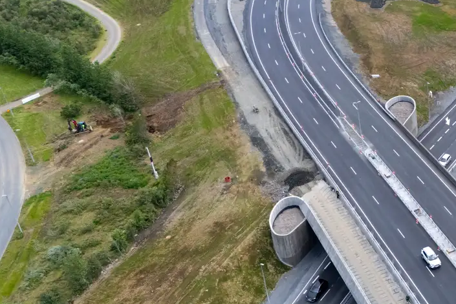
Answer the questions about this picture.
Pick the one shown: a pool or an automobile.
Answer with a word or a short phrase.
automobile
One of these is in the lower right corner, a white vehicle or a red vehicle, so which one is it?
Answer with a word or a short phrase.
white vehicle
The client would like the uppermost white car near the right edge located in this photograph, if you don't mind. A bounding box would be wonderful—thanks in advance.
[439,153,453,167]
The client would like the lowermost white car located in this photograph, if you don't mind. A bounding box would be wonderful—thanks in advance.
[421,246,440,268]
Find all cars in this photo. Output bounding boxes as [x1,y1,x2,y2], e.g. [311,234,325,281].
[439,153,453,167]
[305,279,328,302]
[421,246,440,268]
